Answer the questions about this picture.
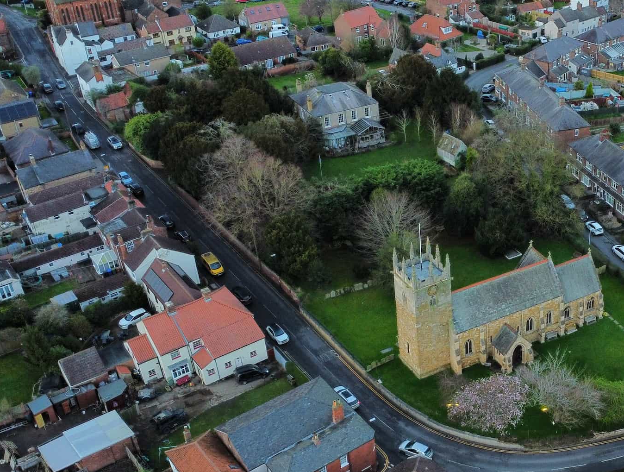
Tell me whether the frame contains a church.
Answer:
Yes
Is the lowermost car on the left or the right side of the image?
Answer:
right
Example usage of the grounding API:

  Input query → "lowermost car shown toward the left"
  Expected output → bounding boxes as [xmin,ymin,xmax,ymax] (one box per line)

[150,406,191,432]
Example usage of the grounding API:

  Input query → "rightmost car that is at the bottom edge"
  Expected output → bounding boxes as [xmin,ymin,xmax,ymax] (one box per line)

[397,440,437,462]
